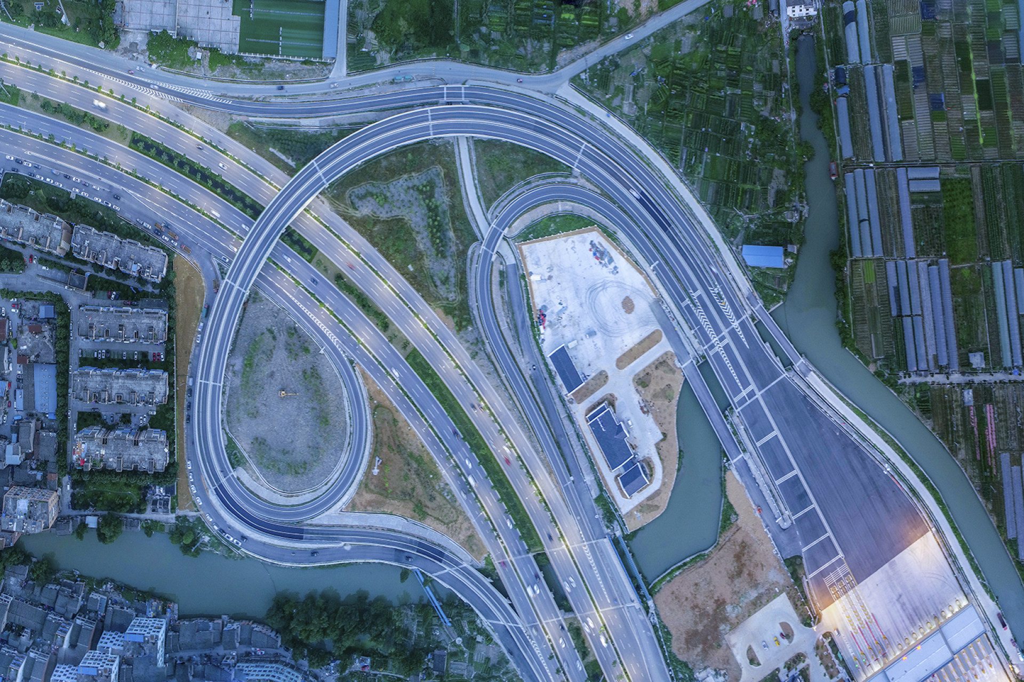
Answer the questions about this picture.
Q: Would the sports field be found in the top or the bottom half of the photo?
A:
top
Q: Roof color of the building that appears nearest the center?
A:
blue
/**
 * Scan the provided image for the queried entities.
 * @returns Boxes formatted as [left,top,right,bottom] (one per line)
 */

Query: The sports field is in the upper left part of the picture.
[234,0,323,58]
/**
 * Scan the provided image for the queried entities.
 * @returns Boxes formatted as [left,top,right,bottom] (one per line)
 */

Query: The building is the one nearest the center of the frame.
[547,343,585,396]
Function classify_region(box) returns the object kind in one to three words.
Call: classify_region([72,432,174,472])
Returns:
building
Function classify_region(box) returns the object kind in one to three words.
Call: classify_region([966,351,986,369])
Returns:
shed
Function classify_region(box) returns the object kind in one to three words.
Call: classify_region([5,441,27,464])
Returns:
house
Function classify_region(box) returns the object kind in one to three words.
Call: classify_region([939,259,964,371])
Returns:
greenhouse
